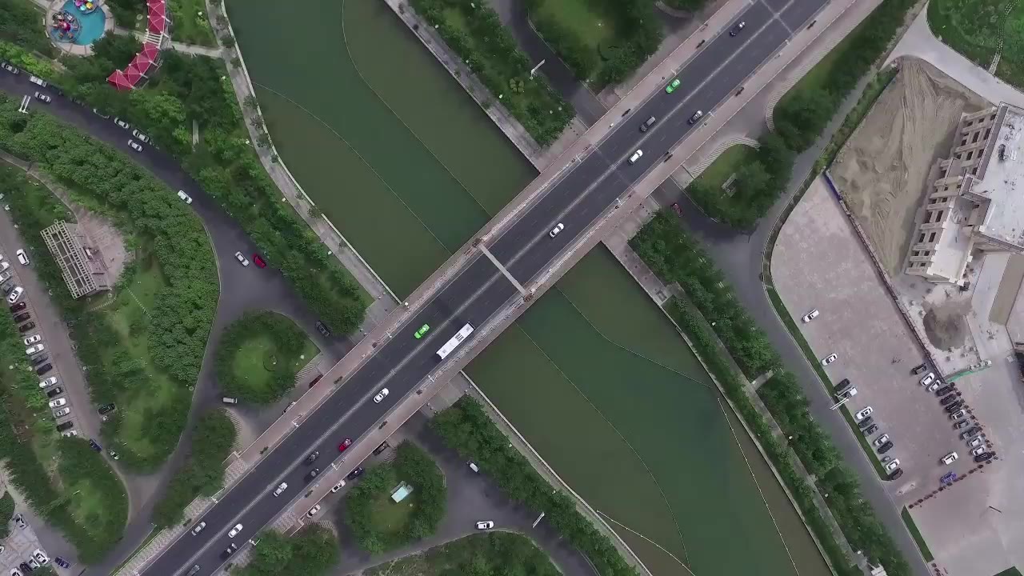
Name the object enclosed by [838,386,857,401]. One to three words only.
vehicle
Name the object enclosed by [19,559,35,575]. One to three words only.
car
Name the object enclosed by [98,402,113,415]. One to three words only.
vehicle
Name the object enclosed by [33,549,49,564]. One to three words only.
car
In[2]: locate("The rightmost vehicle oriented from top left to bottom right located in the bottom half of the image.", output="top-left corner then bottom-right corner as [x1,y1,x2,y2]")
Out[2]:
[464,459,481,474]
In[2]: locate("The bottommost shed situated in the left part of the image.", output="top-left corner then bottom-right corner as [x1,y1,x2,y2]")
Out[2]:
[389,475,415,503]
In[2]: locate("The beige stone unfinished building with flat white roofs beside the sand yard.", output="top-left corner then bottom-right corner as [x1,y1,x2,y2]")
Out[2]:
[901,101,1024,285]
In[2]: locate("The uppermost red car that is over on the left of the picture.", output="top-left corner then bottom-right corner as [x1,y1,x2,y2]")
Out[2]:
[252,253,267,269]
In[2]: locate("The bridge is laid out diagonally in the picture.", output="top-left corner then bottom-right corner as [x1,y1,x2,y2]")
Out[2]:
[110,0,858,576]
